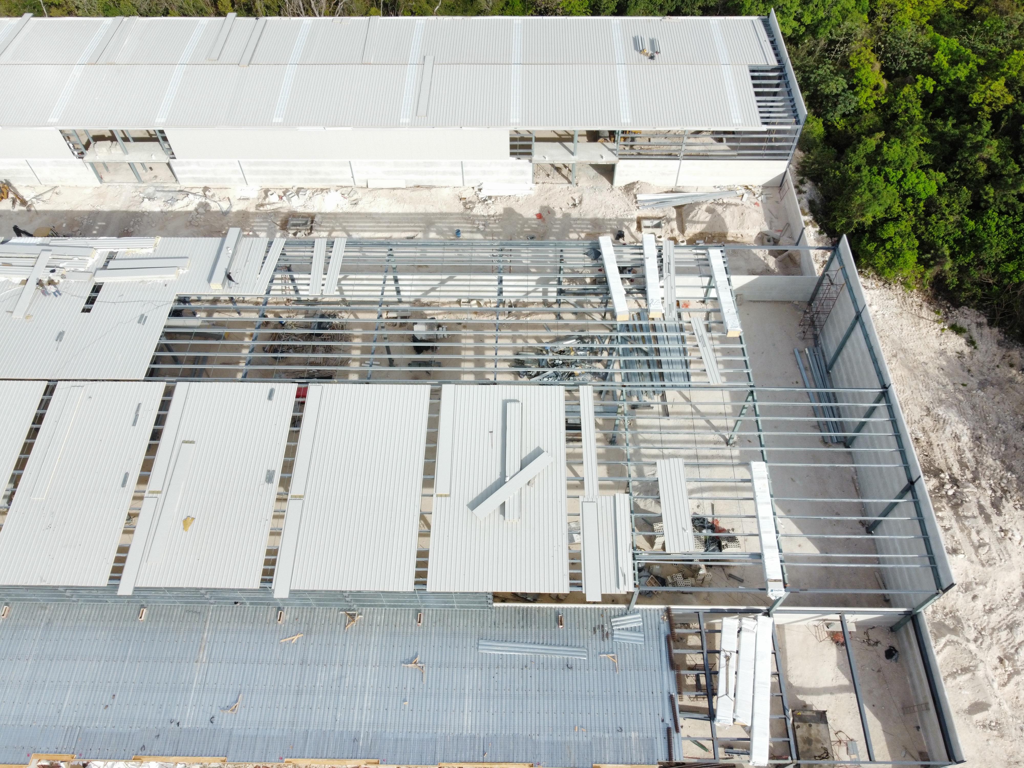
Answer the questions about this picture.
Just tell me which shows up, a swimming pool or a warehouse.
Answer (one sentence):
Looking from above, you can make out a warehouse.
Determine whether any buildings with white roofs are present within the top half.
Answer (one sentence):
Yes, I can see a building with a white roof within the top half.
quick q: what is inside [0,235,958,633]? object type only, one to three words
warehouse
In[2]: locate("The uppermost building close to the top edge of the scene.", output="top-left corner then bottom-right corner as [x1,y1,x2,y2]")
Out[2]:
[0,8,809,188]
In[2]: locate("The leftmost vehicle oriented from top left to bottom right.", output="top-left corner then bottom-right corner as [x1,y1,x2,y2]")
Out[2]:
[0,180,24,209]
